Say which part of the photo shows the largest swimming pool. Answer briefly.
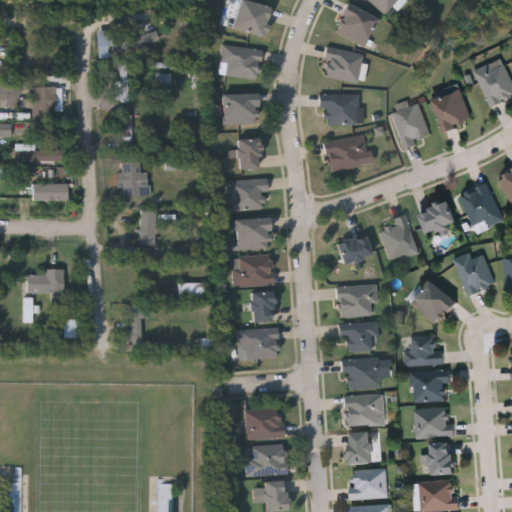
right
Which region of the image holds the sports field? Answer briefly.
bottom left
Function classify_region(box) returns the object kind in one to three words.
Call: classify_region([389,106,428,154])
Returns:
house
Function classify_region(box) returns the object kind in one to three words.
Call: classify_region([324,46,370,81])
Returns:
house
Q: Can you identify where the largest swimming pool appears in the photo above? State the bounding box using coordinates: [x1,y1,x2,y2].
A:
[436,232,460,253]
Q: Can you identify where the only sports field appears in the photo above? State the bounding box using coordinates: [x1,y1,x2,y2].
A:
[36,400,142,512]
